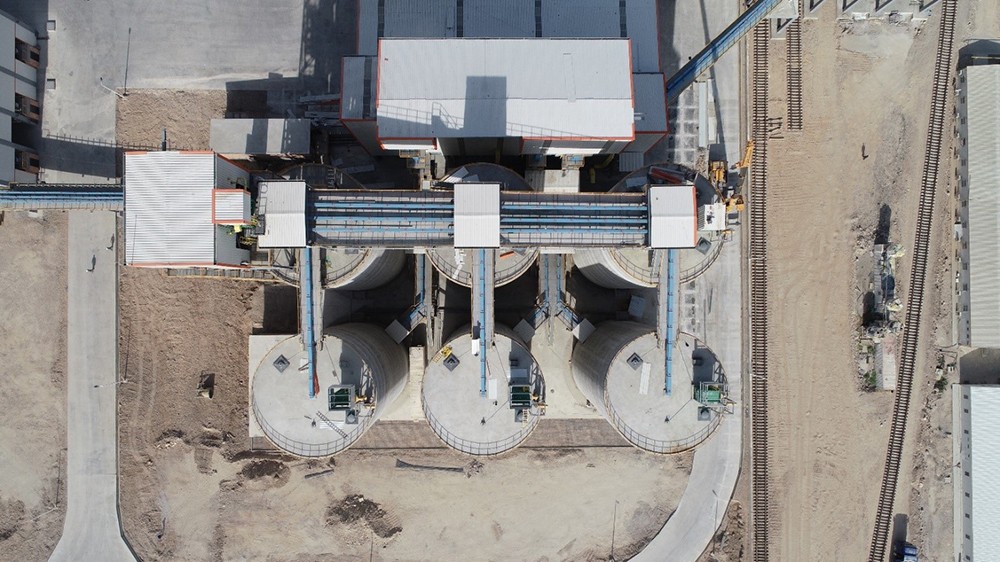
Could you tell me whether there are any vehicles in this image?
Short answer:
Yes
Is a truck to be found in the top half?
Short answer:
Yes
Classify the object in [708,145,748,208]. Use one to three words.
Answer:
truck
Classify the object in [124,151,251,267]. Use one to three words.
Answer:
building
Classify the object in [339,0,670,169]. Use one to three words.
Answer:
building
